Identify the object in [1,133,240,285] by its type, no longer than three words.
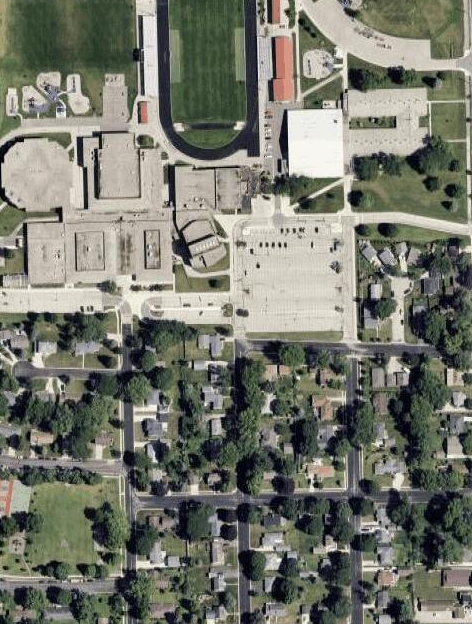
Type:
building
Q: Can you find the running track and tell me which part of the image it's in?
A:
top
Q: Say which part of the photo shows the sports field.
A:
top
